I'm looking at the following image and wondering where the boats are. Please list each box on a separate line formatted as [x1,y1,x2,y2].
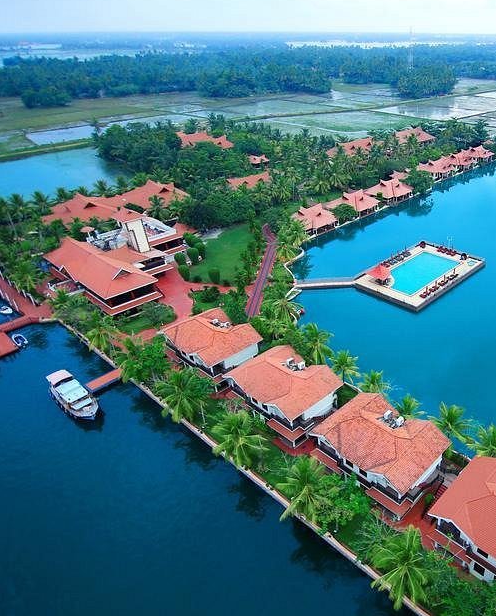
[43,369,100,421]
[8,333,24,343]
[0,307,14,314]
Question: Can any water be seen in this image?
Yes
